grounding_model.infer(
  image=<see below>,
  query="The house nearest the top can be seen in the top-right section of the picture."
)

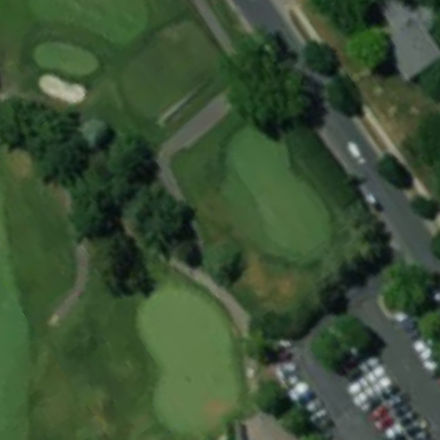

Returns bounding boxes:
[380,0,440,80]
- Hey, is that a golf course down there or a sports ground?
golf course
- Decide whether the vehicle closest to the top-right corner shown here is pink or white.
white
